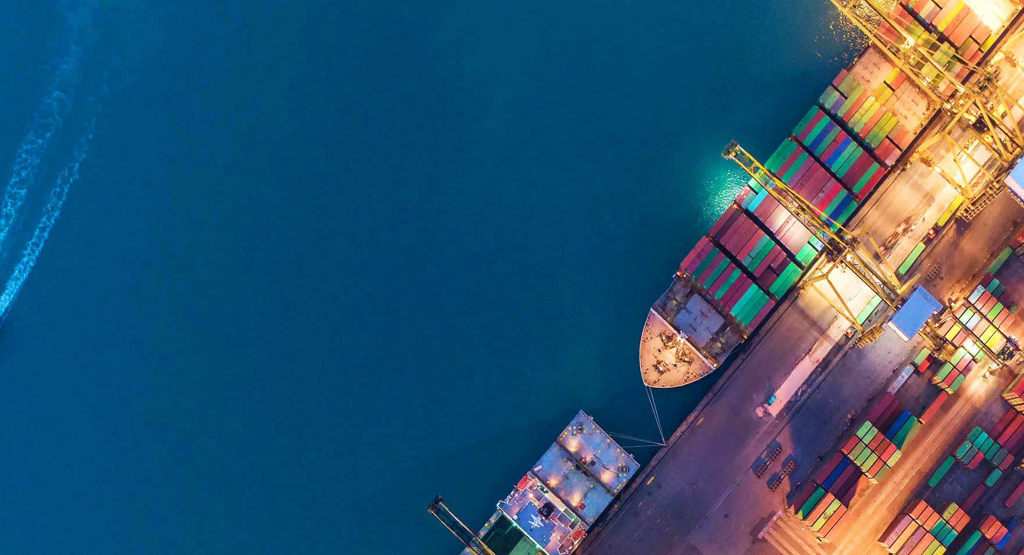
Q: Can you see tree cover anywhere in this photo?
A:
No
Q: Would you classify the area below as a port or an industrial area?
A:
port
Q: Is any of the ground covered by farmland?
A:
No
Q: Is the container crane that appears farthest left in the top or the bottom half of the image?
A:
bottom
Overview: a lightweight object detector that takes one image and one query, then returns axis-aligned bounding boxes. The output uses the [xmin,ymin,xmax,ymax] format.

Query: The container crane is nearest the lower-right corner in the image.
[939,297,1023,373]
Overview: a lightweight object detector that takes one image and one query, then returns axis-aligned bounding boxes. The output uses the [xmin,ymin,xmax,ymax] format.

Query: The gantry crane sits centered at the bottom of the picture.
[424,494,500,555]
